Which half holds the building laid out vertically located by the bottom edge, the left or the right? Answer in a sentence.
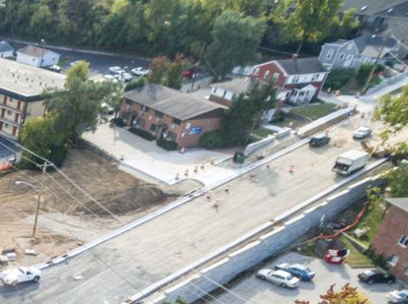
It is on the right.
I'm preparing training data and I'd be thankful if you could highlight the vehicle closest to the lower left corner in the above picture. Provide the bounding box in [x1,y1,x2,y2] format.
[0,264,46,287]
